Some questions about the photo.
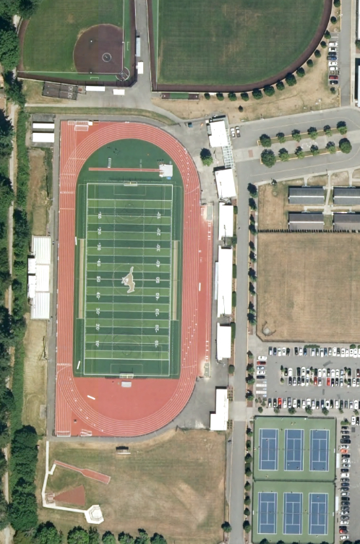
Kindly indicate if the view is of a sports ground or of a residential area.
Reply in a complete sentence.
This image shows a sports ground.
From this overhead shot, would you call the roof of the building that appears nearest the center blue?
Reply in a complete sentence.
No, the roof of the building that appears nearest the center is actually white.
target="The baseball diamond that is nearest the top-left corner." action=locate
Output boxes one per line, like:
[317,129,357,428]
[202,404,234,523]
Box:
[18,0,137,85]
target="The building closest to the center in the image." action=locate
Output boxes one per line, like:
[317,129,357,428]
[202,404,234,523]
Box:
[215,168,236,199]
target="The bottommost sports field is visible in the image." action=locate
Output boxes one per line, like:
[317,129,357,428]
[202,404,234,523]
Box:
[73,139,184,379]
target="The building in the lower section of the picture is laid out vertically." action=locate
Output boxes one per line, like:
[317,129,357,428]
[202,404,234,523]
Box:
[211,388,228,432]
